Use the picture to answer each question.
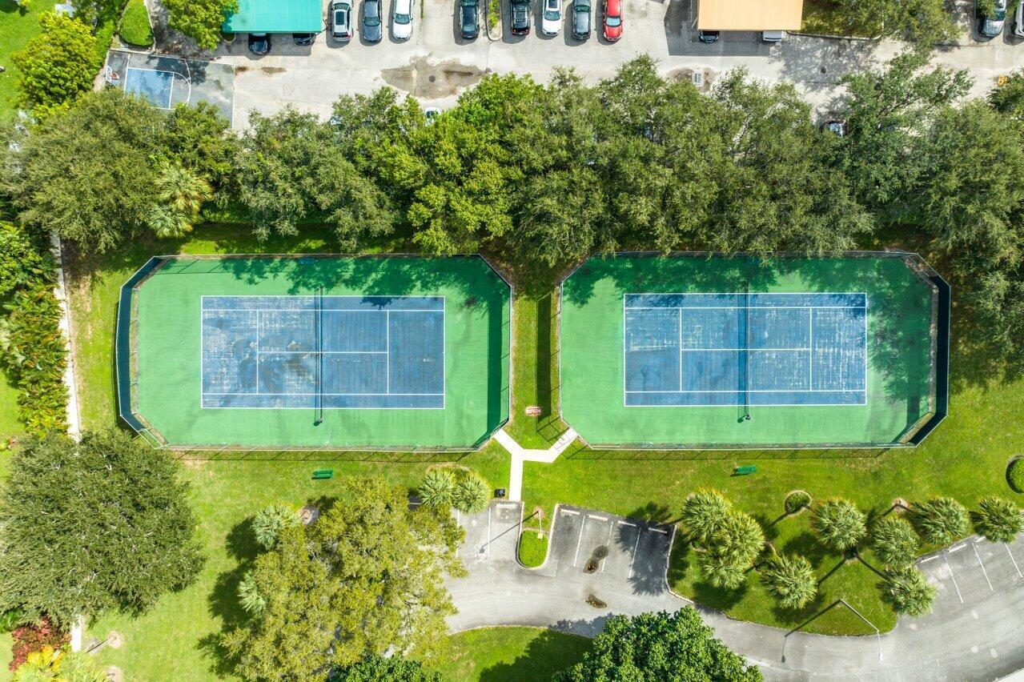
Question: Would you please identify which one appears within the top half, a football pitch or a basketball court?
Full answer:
There is a basketball court within the top half.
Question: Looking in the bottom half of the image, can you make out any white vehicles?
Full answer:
No, there's no white vehicle to be seen in the bottom half of the image.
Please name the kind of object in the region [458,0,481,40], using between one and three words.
car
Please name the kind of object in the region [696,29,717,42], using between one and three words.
vehicle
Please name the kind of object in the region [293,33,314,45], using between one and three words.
vehicle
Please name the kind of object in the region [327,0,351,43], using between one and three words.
car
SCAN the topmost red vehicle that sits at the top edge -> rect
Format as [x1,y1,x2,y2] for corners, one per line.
[602,0,625,42]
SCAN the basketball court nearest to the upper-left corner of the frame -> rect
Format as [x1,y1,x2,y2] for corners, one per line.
[104,51,234,138]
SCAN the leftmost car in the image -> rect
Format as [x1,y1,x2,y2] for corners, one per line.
[244,33,269,57]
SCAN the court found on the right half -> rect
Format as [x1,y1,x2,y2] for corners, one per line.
[559,258,930,445]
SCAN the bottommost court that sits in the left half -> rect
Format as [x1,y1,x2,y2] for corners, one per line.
[135,258,510,446]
